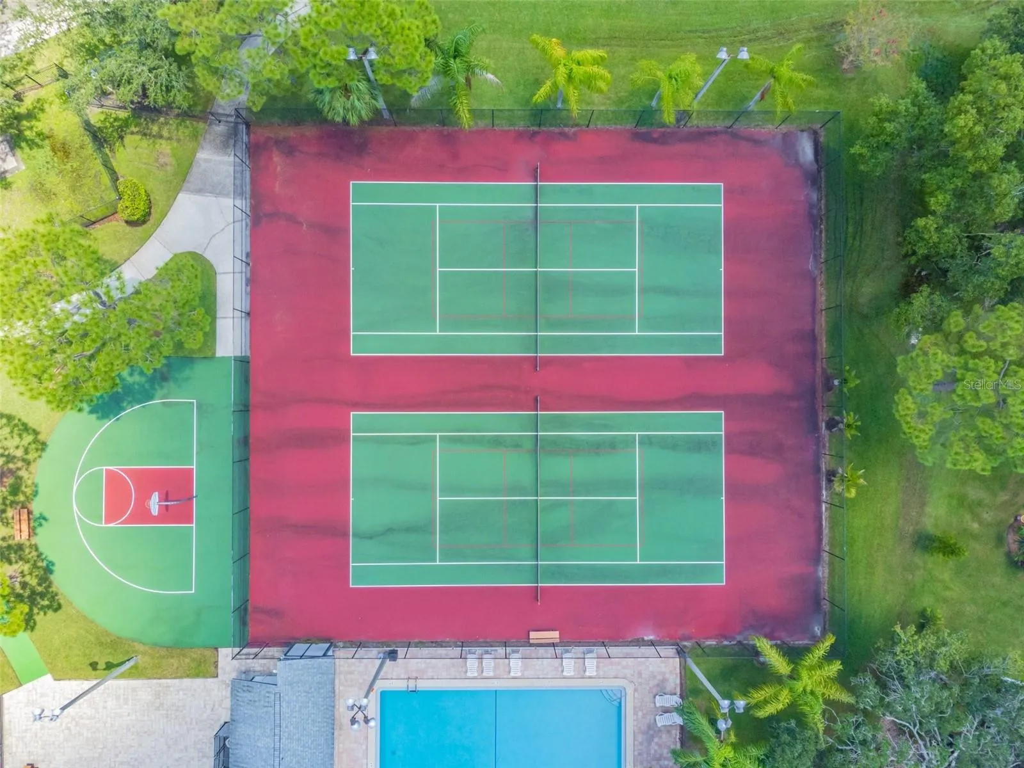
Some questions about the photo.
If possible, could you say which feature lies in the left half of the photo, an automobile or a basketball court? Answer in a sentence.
It is a basketball court that can be seen in the left half of the photo.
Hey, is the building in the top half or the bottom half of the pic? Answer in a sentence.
The building is in the bottom half of the image.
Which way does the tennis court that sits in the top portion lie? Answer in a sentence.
The tennis court that sits in the top portion runs from side to side in the image.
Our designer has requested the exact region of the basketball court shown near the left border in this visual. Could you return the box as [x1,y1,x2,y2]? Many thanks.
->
[36,356,249,649]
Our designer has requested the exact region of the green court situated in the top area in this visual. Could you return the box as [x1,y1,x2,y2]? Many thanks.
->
[350,182,724,355]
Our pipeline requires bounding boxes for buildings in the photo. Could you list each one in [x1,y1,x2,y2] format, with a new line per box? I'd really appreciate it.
[226,644,335,768]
